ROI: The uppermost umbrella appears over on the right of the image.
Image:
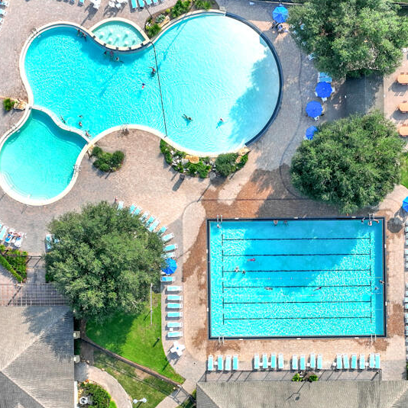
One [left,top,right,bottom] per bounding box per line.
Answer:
[272,6,288,23]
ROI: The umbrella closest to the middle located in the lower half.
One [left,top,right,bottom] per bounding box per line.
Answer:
[161,258,177,274]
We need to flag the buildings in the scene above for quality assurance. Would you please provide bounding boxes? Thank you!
[0,309,78,408]
[197,381,408,408]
